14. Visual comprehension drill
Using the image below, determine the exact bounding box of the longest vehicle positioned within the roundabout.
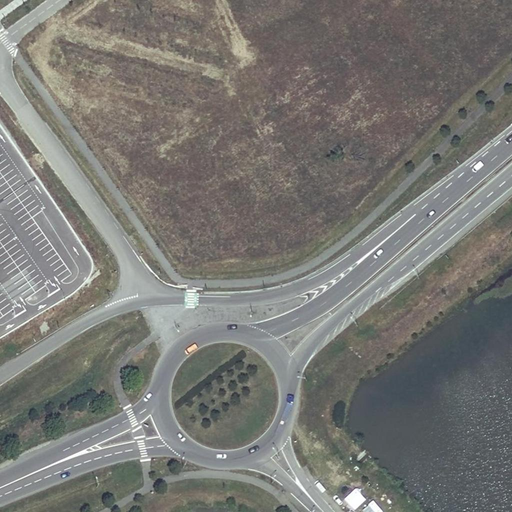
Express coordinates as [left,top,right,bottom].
[277,395,296,426]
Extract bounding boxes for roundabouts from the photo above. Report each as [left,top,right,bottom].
[150,322,303,470]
